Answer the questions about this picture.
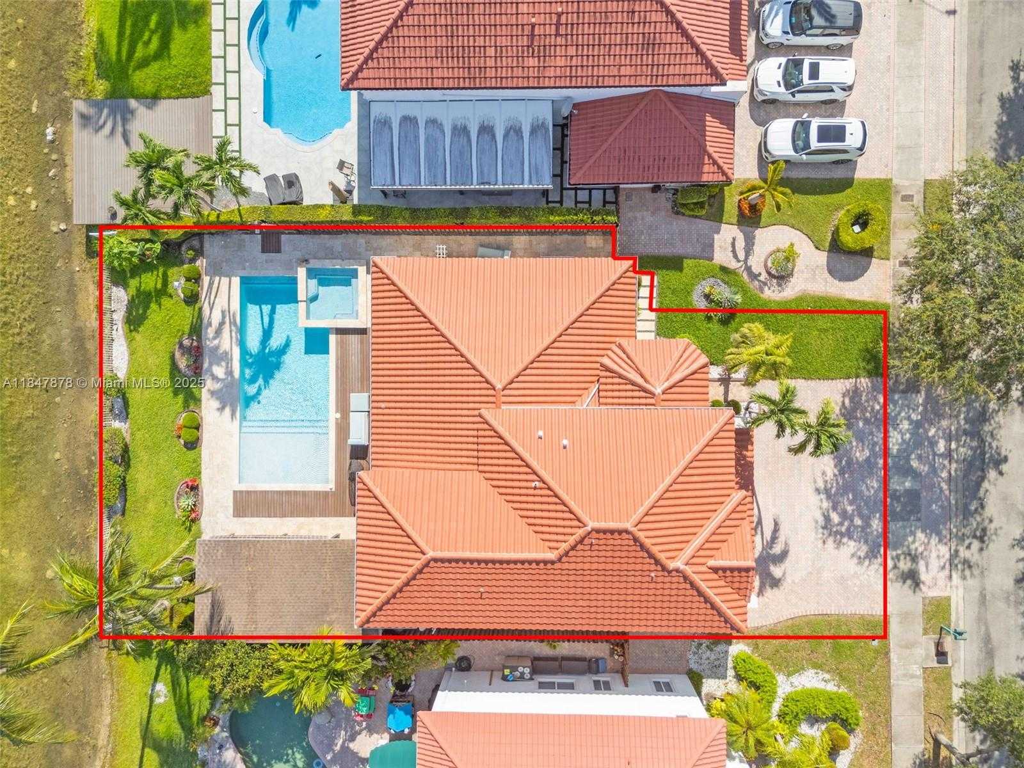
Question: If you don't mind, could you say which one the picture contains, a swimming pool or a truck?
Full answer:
I can see a swimming pool in this picture.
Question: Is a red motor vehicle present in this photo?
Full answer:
No, there's no red motor vehicle here.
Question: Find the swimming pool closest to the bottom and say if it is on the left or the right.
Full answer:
The swimming pool closest to the bottom is on the left side of the image.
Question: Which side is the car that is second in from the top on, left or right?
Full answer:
You can find the car that is second in from the top on the right side of the picture.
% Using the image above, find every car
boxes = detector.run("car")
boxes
[760,0,864,46]
[753,49,856,105]
[761,110,867,165]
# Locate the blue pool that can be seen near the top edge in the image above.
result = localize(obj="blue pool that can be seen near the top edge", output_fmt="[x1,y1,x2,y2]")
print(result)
[248,0,353,144]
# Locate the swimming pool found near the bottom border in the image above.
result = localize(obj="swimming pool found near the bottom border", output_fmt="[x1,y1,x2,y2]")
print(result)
[225,679,327,768]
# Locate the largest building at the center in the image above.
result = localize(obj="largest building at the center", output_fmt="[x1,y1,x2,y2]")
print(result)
[352,254,761,637]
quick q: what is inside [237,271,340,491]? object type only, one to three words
swimming pool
